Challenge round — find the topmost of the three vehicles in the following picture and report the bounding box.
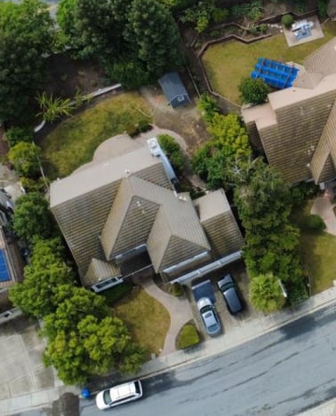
[221,274,243,314]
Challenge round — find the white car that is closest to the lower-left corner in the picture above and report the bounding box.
[95,381,144,410]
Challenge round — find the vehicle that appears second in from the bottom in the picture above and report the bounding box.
[197,297,221,336]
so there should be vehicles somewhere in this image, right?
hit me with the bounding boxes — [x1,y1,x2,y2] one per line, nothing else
[197,297,221,336]
[95,381,144,410]
[221,274,243,314]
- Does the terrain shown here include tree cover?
Yes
